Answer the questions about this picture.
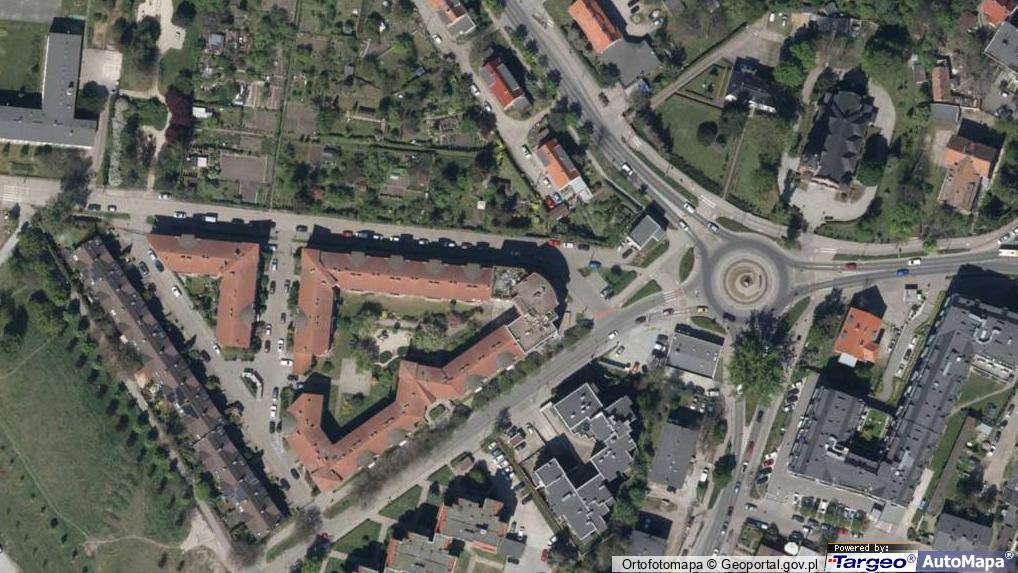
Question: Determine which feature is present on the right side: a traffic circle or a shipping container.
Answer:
traffic circle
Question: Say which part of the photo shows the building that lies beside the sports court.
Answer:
top left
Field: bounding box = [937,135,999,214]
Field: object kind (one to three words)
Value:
house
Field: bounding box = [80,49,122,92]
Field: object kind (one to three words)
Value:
sports court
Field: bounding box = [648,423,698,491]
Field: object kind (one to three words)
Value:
building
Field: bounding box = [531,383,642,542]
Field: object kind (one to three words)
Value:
building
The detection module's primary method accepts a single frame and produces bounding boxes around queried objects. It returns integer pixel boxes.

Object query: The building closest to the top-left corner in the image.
[0,33,97,149]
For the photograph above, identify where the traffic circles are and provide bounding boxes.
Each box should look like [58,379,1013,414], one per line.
[698,233,794,330]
